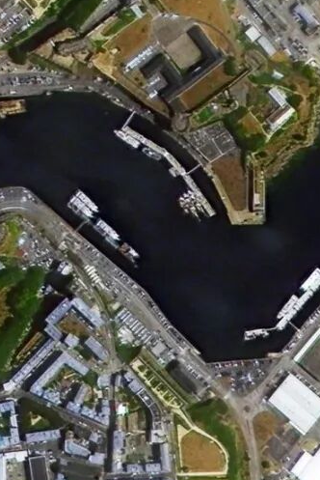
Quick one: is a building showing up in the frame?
Yes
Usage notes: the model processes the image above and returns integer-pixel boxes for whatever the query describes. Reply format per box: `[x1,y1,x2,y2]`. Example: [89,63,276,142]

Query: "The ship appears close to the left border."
[0,100,25,113]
